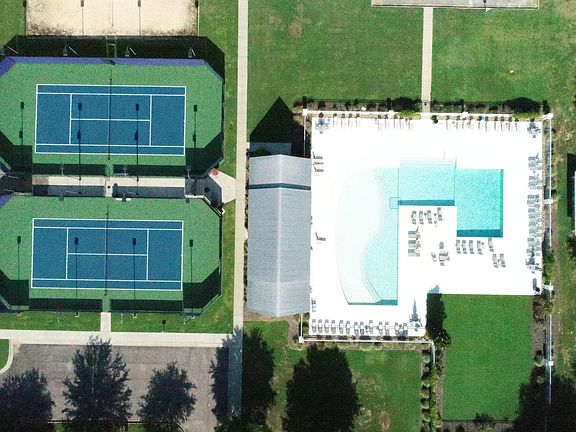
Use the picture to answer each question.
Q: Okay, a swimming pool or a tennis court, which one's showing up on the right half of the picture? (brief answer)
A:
swimming pool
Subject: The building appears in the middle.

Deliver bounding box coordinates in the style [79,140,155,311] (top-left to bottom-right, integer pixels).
[246,155,312,317]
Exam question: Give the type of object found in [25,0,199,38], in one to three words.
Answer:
sports court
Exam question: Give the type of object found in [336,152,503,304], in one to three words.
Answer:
swimming pool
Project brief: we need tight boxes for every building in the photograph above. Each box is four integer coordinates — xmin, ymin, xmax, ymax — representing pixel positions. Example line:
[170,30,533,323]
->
[246,155,312,317]
[567,170,576,230]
